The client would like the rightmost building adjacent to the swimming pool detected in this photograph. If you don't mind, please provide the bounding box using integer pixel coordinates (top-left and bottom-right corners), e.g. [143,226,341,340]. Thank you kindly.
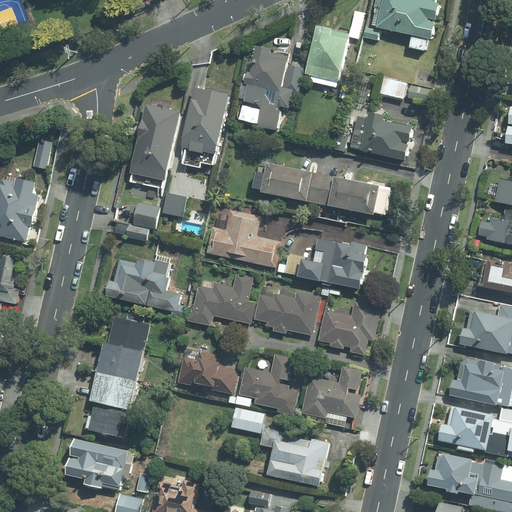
[206,209,282,268]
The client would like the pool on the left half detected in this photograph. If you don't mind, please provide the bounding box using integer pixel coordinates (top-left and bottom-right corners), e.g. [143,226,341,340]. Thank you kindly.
[179,220,204,236]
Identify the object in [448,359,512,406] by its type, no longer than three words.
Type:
house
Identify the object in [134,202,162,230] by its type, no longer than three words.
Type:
building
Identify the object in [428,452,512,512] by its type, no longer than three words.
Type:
house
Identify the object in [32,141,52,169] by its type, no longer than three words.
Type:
shed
